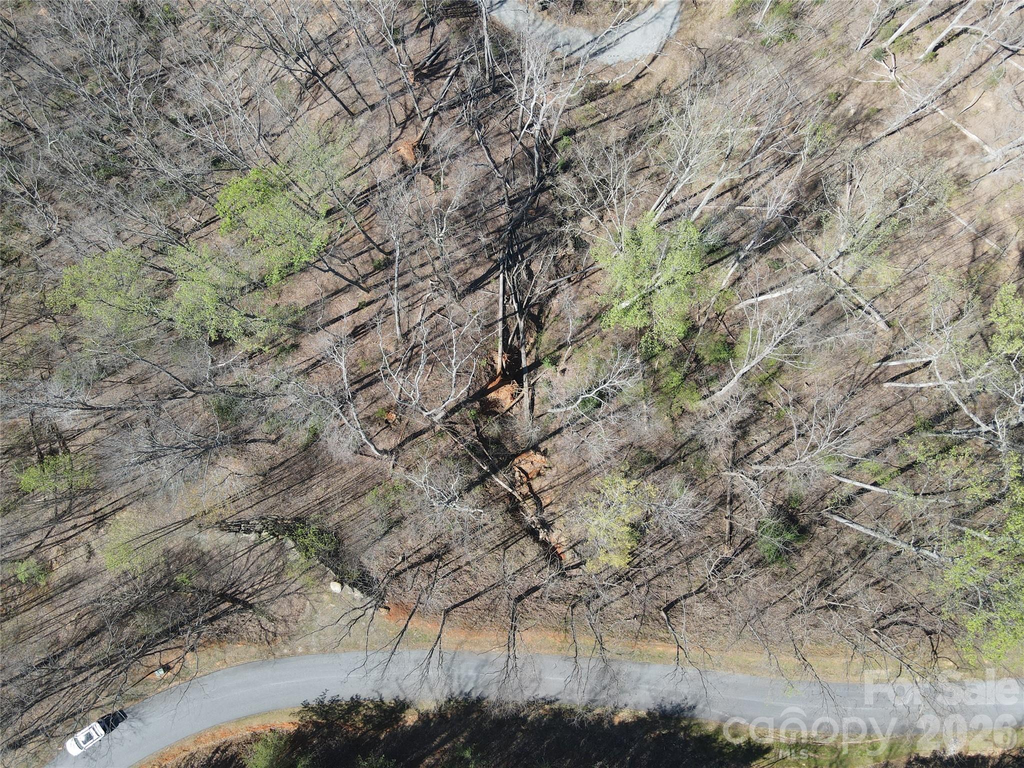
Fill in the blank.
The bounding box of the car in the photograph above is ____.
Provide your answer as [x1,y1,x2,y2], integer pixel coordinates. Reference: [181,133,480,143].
[68,711,118,752]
